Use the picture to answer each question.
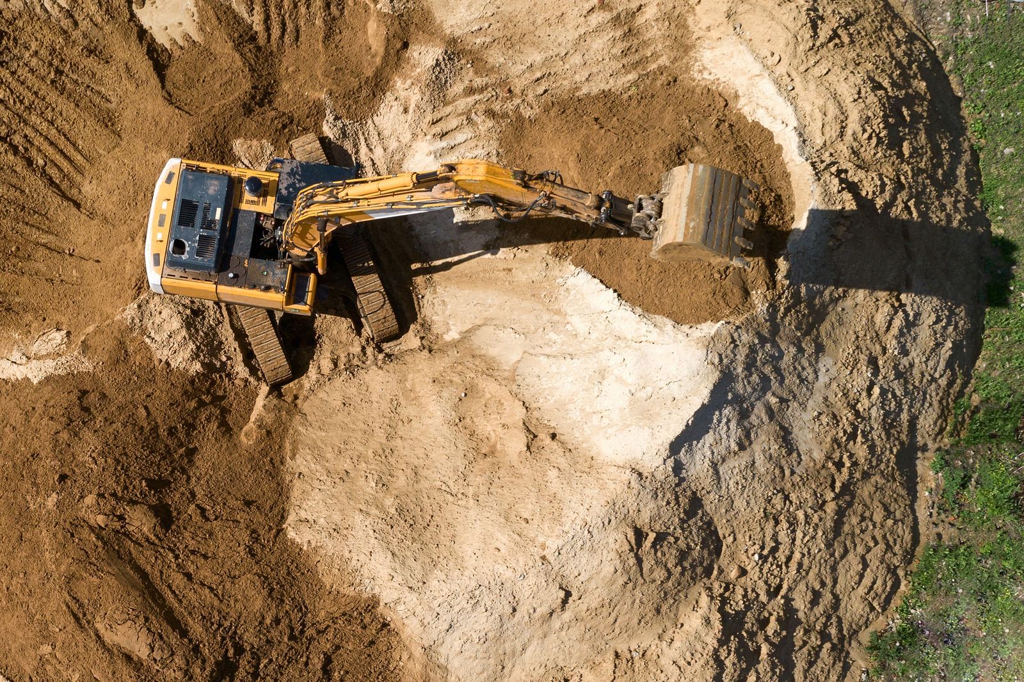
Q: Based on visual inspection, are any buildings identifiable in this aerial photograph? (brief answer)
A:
No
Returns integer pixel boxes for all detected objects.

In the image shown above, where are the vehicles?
[145,129,761,394]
